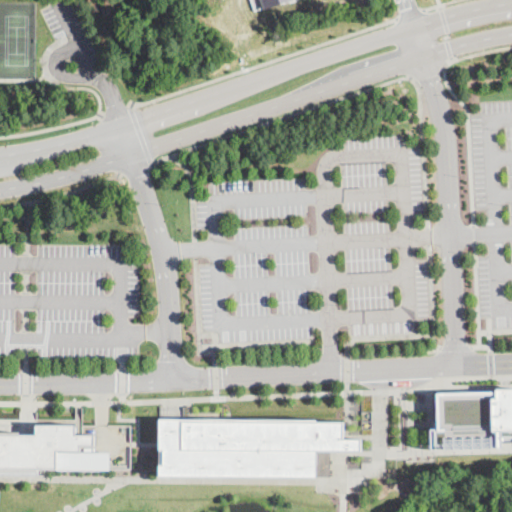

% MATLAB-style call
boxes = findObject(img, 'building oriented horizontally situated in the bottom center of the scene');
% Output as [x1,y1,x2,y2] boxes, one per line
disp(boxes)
[157,418,362,478]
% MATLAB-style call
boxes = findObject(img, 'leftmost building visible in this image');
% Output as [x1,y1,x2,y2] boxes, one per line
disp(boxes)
[0,425,110,476]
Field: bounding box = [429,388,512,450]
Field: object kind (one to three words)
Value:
building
